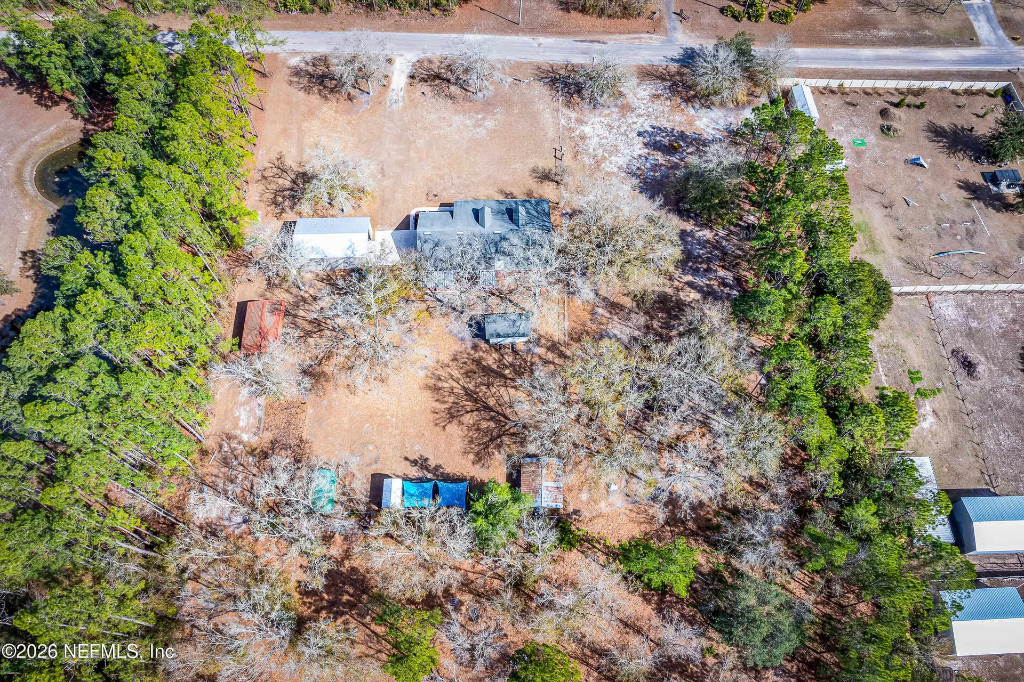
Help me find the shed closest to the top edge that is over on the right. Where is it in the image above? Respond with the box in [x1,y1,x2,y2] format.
[787,82,818,130]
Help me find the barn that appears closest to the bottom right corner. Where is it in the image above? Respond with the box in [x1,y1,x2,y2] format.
[934,589,1024,658]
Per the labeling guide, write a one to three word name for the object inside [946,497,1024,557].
barn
